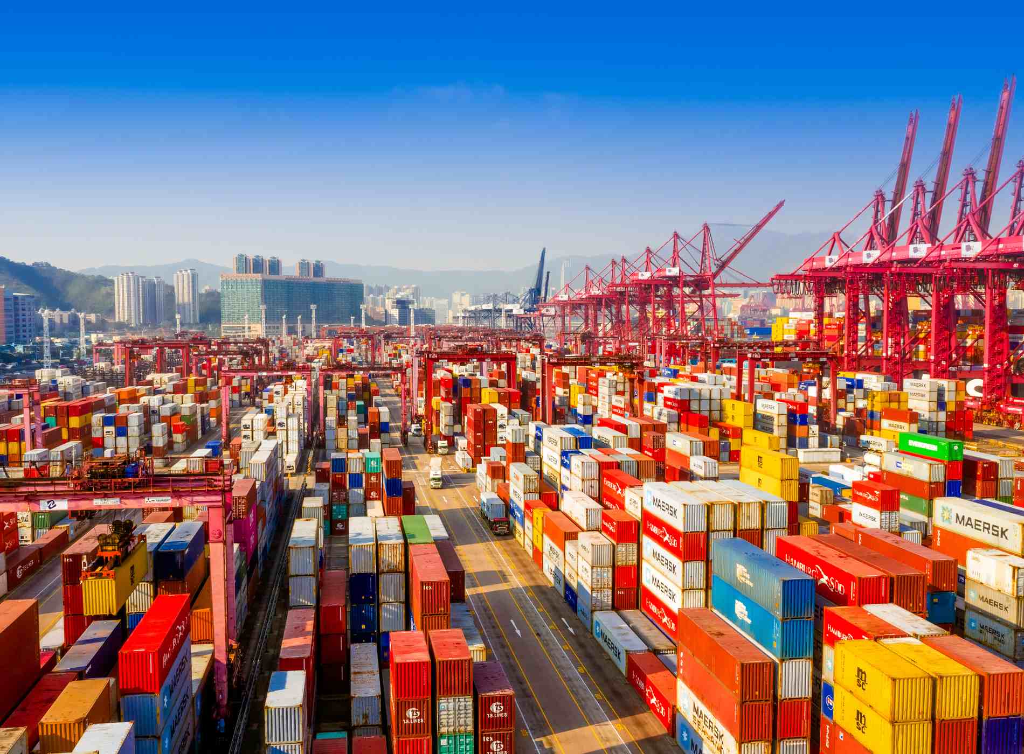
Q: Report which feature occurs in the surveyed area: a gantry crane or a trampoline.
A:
gantry crane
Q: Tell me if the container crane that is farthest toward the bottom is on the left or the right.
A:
left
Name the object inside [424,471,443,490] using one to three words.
vehicle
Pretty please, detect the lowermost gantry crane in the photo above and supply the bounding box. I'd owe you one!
[0,448,248,752]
